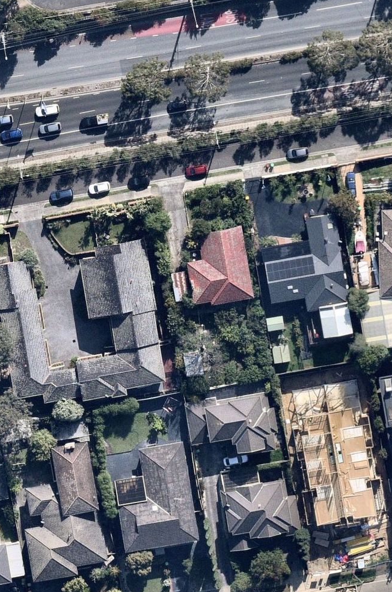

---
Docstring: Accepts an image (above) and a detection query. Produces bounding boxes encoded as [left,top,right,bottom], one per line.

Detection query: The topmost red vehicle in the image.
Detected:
[186,165,206,178]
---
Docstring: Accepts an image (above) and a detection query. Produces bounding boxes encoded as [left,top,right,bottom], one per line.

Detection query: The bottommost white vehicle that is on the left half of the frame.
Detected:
[88,183,110,196]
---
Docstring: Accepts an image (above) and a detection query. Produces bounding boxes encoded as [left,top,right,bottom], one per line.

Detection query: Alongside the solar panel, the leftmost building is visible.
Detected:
[172,228,256,307]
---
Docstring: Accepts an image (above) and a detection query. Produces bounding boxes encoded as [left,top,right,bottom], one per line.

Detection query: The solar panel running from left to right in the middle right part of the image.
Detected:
[267,257,315,280]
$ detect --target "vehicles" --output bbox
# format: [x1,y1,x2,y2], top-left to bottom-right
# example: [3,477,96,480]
[286,147,309,160]
[345,170,355,196]
[88,183,110,196]
[186,165,206,178]
[39,123,61,135]
[1,129,23,142]
[51,190,72,203]
[0,116,12,127]
[80,115,108,128]
[358,261,368,285]
[36,106,59,118]
[224,457,247,468]
[166,101,188,114]
[127,177,150,188]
